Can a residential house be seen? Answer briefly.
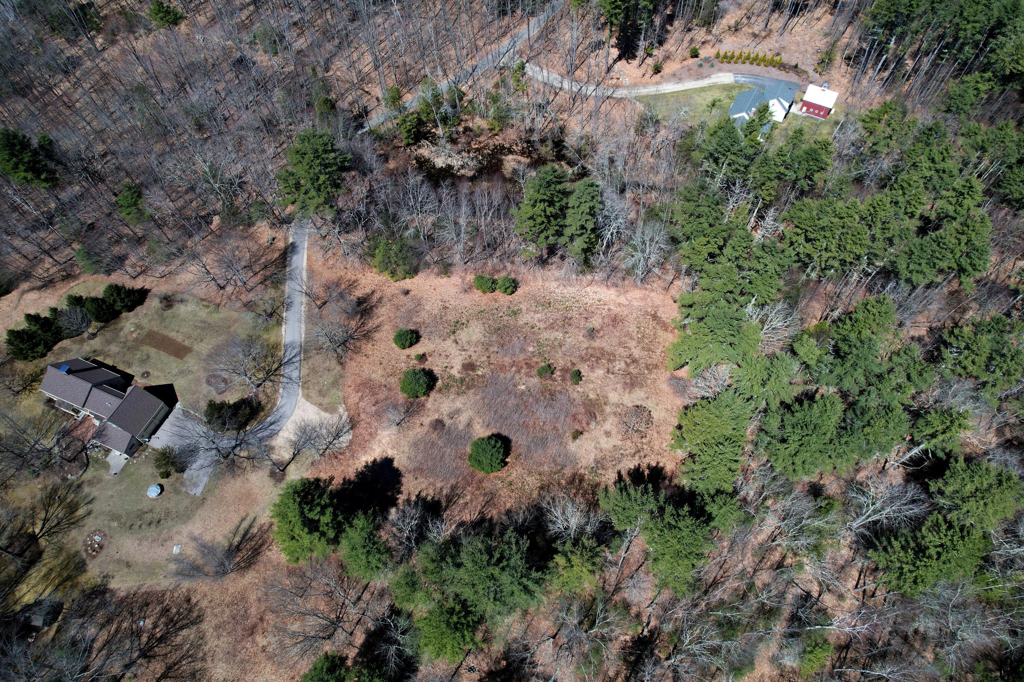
Yes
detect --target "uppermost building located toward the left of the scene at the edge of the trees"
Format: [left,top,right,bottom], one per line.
[41,357,171,457]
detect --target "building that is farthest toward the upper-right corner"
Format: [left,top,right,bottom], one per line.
[799,83,839,121]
